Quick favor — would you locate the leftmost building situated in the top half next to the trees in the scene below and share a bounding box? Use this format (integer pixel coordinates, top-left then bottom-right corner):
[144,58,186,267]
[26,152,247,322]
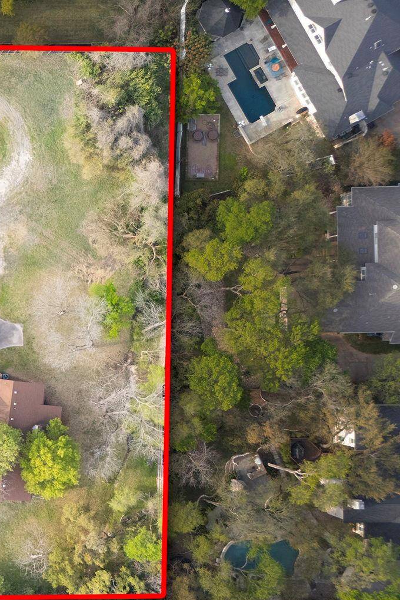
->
[194,0,241,41]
